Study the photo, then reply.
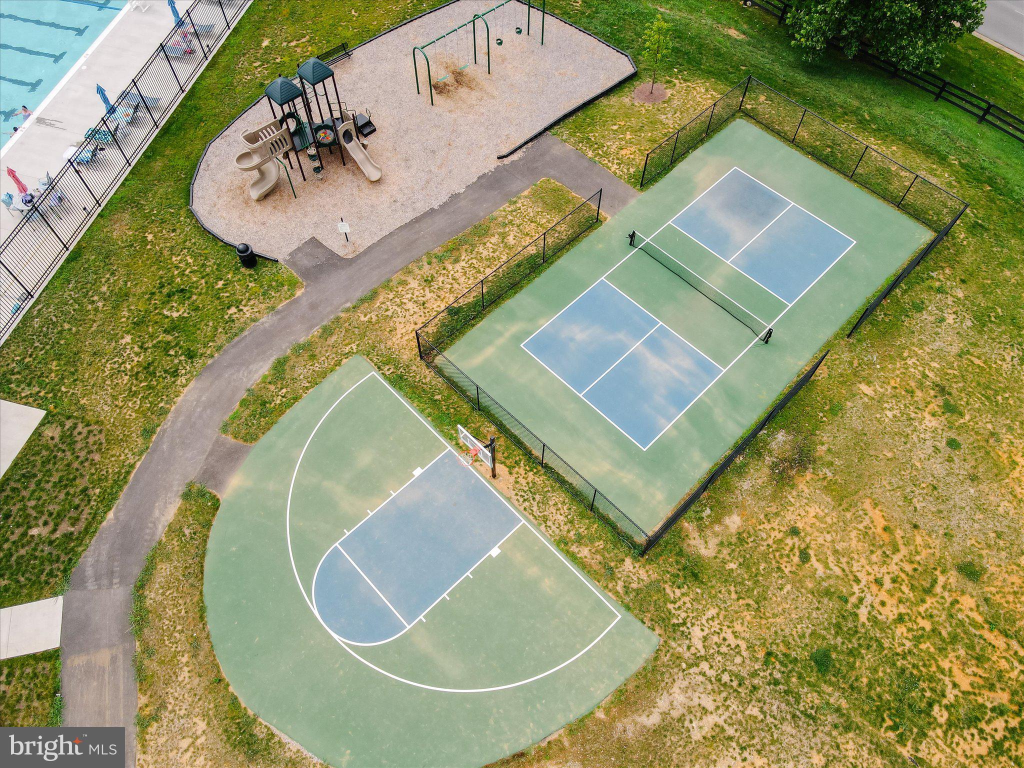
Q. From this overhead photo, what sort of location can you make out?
sports ground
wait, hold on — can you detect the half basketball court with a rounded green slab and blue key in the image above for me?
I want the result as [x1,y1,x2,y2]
[204,355,659,768]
